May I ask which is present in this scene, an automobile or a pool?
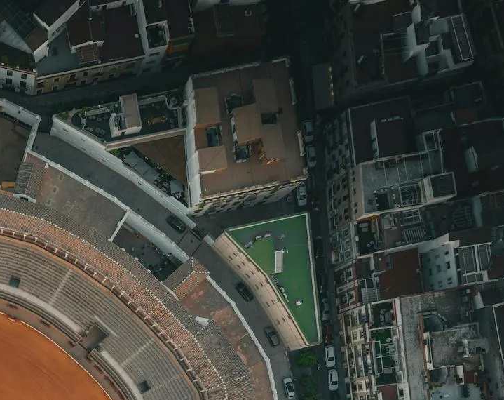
automobile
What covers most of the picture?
buildings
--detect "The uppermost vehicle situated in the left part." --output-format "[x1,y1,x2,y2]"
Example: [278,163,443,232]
[165,215,186,234]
